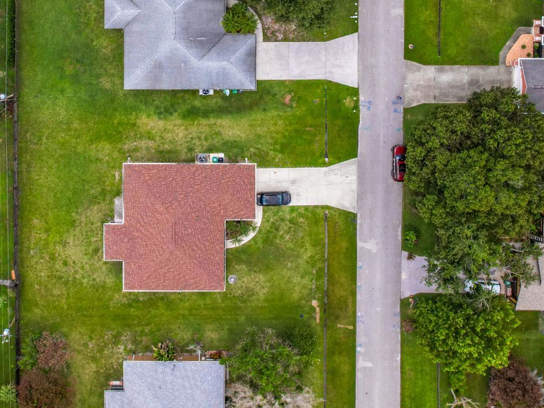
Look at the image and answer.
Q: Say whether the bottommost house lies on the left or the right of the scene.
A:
left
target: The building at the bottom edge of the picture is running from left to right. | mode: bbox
[104,354,226,408]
